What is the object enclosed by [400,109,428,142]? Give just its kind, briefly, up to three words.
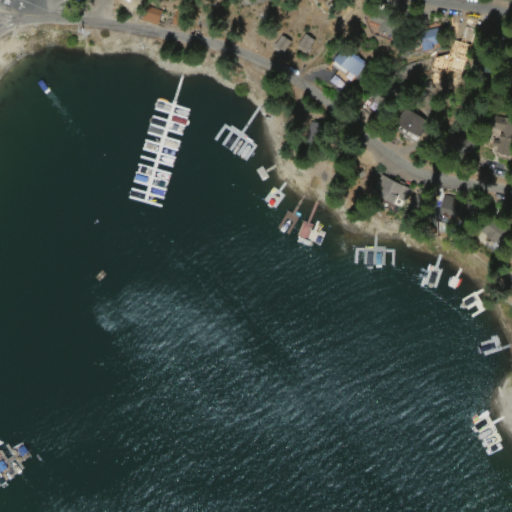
house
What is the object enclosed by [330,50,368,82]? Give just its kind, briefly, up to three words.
house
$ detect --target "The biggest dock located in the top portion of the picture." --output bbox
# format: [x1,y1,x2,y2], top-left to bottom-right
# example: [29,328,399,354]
[129,74,190,208]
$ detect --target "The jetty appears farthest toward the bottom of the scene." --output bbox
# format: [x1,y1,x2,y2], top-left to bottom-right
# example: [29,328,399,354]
[0,444,32,481]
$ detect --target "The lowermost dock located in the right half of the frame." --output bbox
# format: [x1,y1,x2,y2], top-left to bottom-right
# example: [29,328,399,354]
[474,410,505,455]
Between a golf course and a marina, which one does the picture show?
marina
